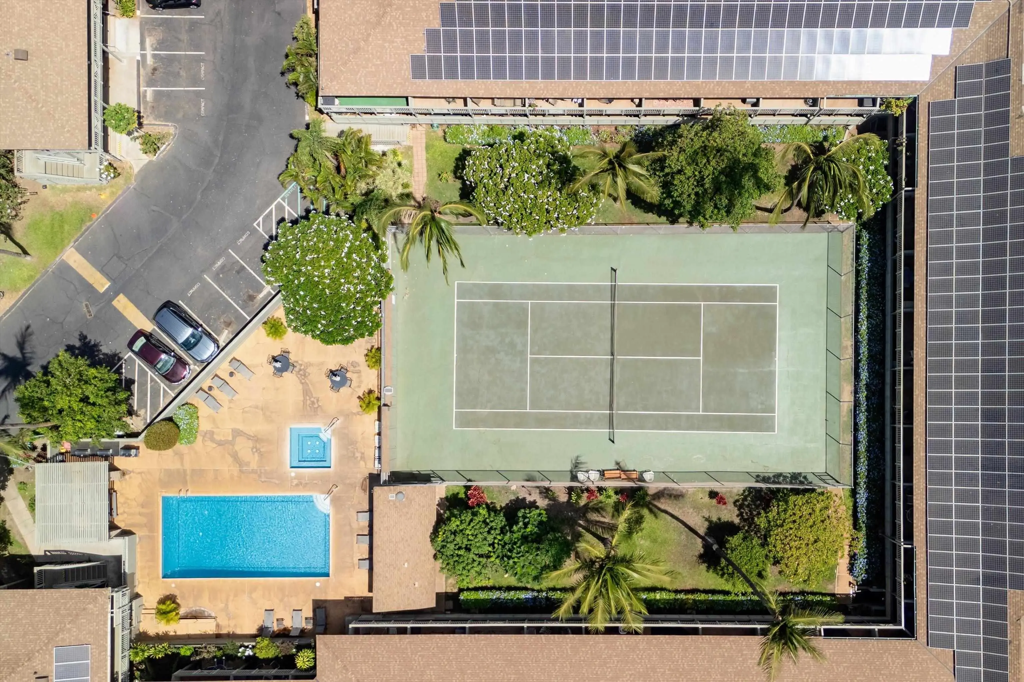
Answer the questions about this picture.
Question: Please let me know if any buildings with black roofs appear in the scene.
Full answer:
No, no building with a black roof is visible in the scene.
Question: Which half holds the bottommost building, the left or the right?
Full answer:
The bottommost building appears in the left half of the scene.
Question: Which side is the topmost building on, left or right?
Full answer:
The topmost building appears in the left half of the scene.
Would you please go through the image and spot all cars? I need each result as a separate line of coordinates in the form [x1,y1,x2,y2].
[146,301,215,360]
[143,0,201,10]
[121,328,187,383]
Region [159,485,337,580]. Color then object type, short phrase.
blue swimming pool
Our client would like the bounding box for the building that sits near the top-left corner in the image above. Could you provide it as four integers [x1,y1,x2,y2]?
[0,0,127,186]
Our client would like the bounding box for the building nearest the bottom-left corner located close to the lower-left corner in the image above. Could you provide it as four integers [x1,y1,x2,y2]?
[0,560,135,682]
